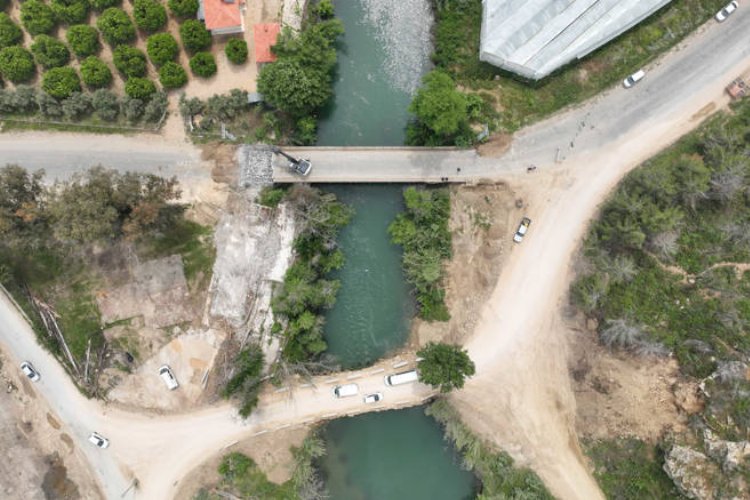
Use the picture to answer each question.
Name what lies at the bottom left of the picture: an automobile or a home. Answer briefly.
automobile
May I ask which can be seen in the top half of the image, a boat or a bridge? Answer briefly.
bridge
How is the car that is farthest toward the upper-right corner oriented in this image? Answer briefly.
diagonally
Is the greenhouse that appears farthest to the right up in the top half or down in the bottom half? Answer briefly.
top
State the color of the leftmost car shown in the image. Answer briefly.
white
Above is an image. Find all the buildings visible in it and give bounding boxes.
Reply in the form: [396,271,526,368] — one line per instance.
[254,23,281,64]
[196,0,248,38]
[480,0,678,81]
[245,92,261,105]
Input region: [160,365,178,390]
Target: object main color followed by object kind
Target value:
white vehicle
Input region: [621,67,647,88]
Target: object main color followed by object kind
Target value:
white vehicle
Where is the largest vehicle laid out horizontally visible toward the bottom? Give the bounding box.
[385,370,420,387]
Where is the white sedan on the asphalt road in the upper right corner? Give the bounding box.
[715,1,738,21]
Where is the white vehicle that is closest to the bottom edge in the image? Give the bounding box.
[89,433,111,447]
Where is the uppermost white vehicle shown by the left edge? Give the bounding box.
[20,361,41,382]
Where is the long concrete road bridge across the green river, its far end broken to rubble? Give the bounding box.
[272,147,478,184]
